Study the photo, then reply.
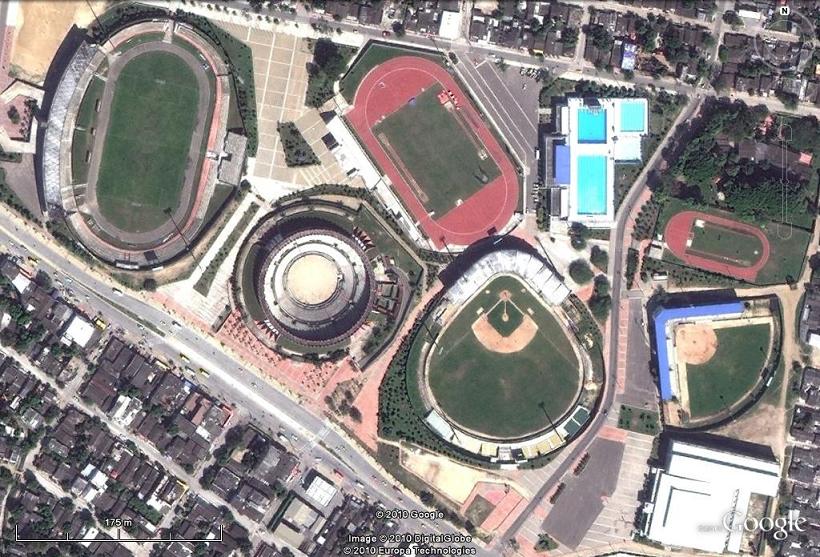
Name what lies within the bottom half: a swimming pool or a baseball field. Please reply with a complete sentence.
The one visible within the bottom half is a baseball field.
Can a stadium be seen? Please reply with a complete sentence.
Yes, a stadium is visible in the scene.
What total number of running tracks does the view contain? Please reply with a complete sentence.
The picture shows 3 running tracks.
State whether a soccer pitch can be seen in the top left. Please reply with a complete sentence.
Yes, a soccer pitch can be seen in the top left.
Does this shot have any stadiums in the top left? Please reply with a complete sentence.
Yes, in the top left there is a stadium.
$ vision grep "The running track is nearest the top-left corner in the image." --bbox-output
[73,33,214,248]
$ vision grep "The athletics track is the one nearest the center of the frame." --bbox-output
[344,58,517,251]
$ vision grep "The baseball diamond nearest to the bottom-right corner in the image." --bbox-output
[676,317,774,421]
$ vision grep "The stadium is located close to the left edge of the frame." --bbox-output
[39,15,231,271]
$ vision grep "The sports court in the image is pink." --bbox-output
[461,483,528,534]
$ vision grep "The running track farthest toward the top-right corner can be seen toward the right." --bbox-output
[665,211,769,279]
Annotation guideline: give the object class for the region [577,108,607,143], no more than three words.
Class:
swimming pool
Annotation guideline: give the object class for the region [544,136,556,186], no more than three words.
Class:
building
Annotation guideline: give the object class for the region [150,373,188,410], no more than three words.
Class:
house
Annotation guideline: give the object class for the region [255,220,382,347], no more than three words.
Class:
stadium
